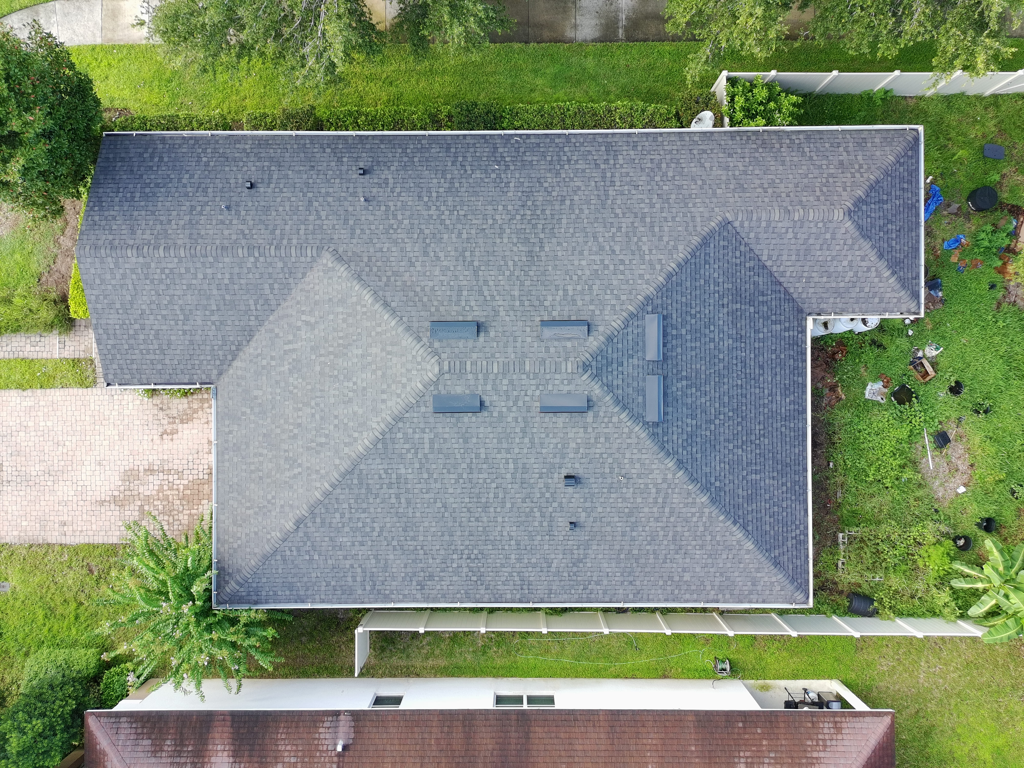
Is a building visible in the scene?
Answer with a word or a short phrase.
Yes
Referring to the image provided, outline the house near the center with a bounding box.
[71,128,924,607]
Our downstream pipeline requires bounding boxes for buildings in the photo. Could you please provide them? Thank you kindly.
[55,676,898,768]
[71,128,924,607]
